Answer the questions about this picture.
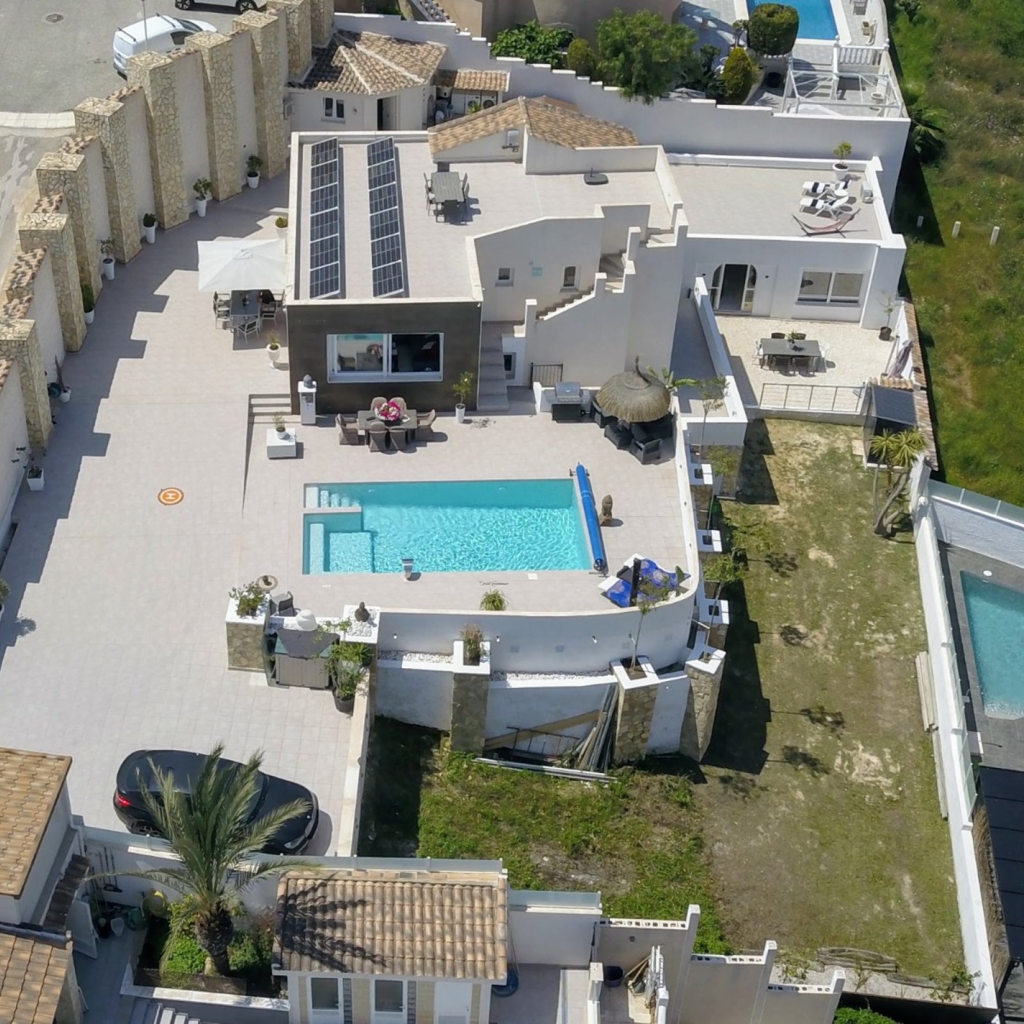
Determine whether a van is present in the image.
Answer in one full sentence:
Yes, there's a van here.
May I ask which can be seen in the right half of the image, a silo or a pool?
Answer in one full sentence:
What appears in the right half of the image is a pool.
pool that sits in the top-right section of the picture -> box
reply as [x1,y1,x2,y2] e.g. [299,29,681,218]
[740,0,851,47]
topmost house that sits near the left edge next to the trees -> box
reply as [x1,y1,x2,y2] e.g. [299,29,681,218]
[0,730,102,927]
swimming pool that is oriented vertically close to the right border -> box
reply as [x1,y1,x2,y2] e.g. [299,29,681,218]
[962,572,1024,721]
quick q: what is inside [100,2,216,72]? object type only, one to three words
van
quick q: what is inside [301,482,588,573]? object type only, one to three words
swimming pool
